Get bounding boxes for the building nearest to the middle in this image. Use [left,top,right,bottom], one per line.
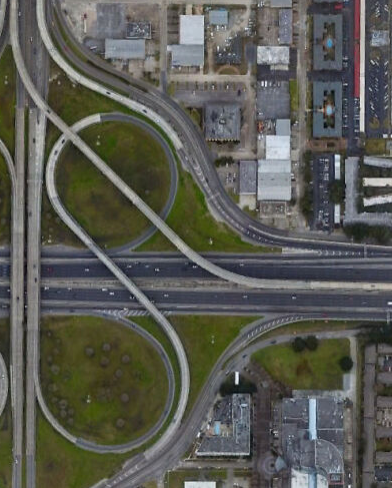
[239,161,256,194]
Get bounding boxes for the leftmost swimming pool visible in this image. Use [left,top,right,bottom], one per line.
[205,422,232,437]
